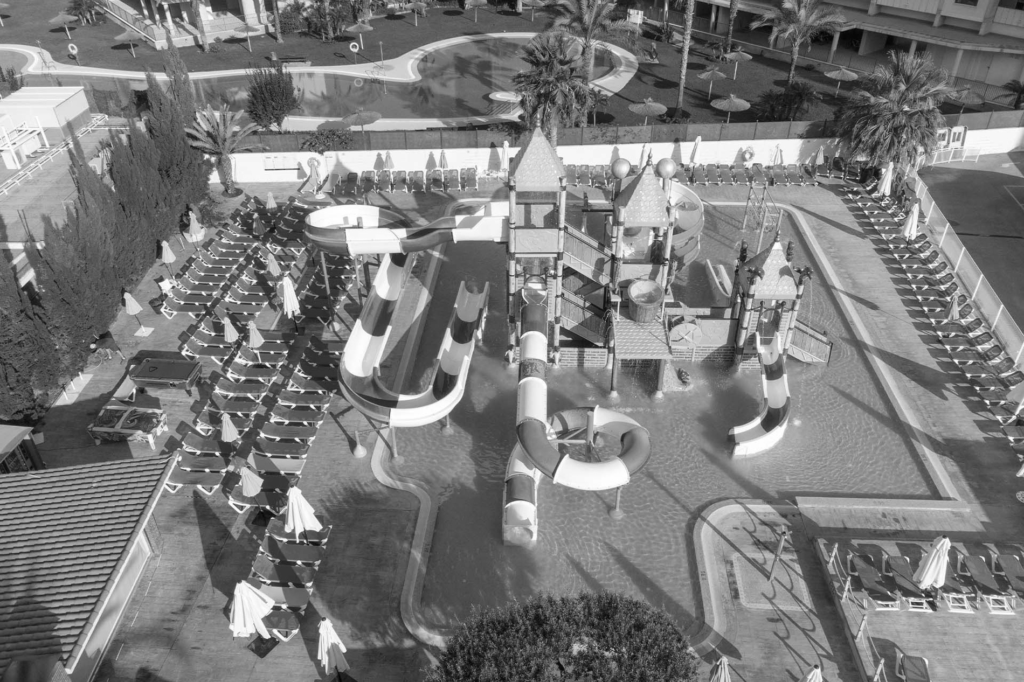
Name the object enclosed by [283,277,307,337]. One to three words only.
umbrella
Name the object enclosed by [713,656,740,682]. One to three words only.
umbrella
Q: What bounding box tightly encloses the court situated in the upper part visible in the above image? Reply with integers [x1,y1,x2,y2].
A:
[922,168,1024,333]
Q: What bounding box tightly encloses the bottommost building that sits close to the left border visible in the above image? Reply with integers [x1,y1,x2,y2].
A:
[0,451,188,682]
